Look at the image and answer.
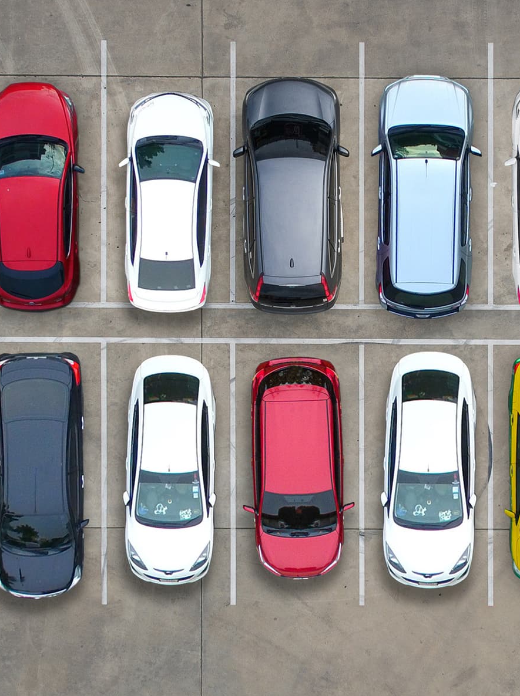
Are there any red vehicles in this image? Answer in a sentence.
Yes, a red vehicle appears in the view.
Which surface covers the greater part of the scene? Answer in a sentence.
The largest share of the image is taken up by paved ground.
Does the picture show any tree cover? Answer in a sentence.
No, tree cover can't be seen anywhere here.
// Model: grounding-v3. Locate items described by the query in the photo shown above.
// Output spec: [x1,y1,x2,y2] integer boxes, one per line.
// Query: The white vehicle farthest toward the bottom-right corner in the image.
[382,352,479,588]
